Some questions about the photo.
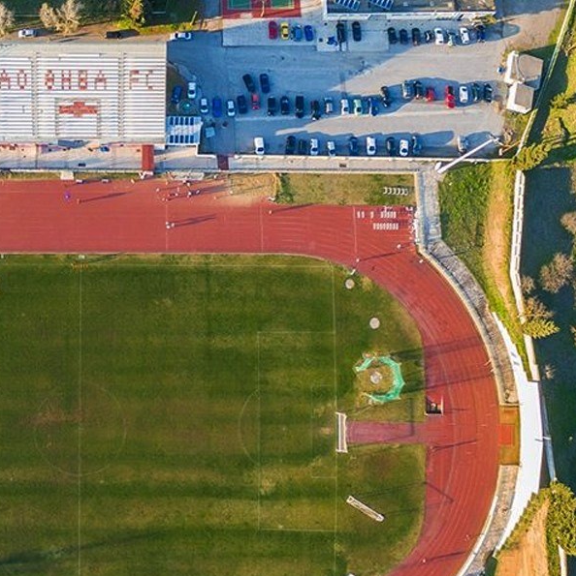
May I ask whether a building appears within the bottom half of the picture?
No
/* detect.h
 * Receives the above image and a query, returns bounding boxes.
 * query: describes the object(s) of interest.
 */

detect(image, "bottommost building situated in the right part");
[504,85,534,115]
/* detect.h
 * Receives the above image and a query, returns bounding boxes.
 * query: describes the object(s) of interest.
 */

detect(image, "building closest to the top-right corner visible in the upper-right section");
[502,51,543,91]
